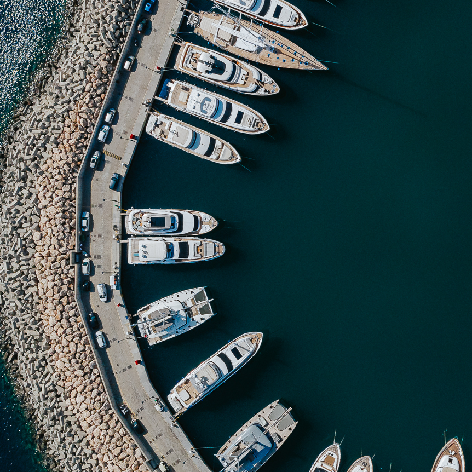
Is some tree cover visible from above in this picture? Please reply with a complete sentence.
No, the picture contains no tree cover.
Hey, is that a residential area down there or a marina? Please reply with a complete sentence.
What you see here is a marina.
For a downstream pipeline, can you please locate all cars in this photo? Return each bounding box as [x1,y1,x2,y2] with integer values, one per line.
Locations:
[130,416,145,435]
[123,53,136,71]
[104,107,117,125]
[82,258,92,275]
[137,16,150,35]
[95,330,108,349]
[89,150,102,170]
[89,311,100,330]
[108,172,122,191]
[83,278,93,293]
[97,125,112,143]
[145,0,157,15]
[81,212,91,231]
[96,283,108,302]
